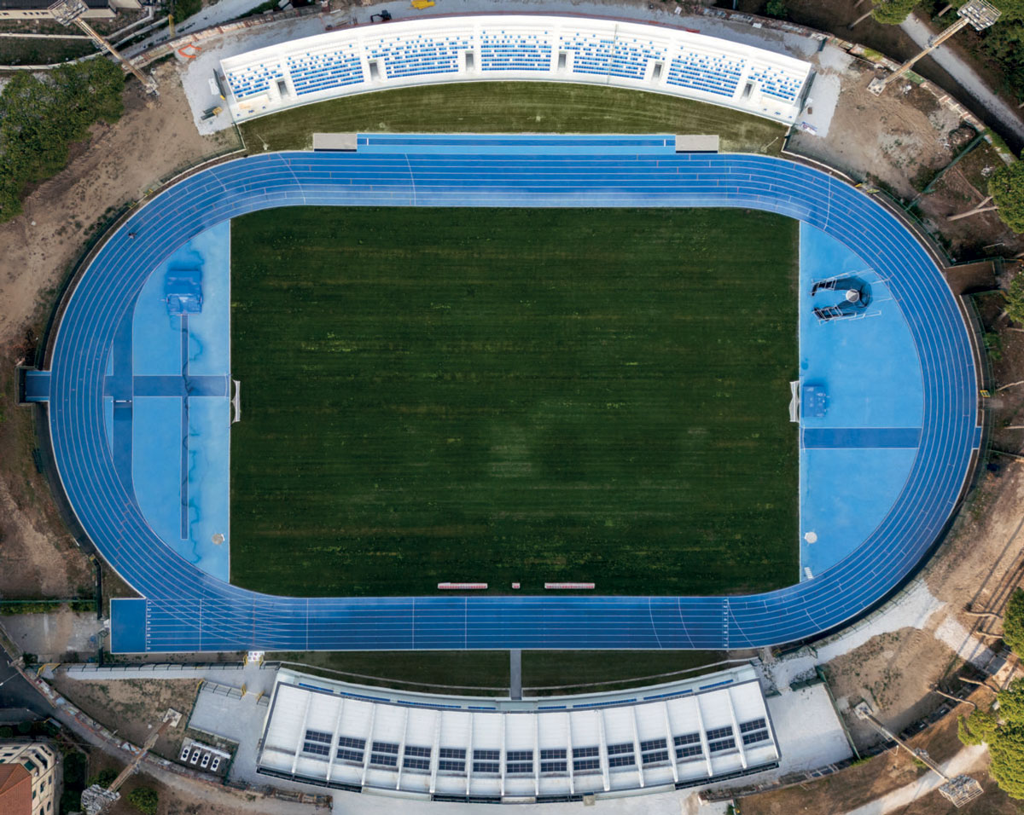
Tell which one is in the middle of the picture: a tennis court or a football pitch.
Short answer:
football pitch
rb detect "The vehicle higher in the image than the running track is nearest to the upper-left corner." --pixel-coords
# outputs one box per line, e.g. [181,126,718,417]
[366,6,392,26]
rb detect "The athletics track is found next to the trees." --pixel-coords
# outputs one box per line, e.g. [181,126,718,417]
[50,152,979,652]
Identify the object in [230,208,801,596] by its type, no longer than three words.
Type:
soccer field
